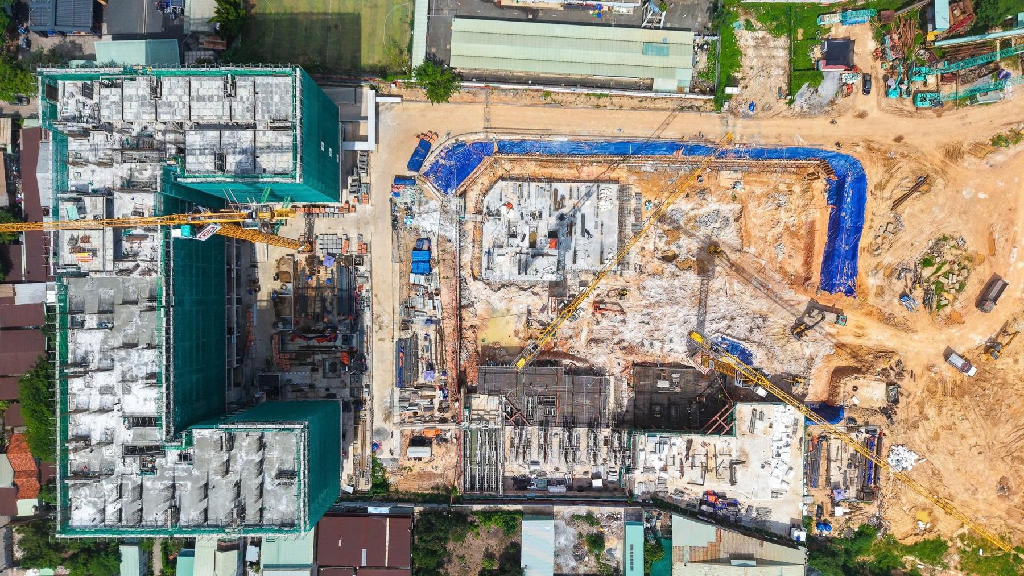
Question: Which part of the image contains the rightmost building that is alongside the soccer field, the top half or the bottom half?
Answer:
top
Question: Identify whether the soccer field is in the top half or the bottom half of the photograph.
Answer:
top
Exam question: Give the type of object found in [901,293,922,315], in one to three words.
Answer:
work vehicle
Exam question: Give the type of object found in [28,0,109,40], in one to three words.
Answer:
shed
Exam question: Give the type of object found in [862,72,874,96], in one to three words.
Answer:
vehicle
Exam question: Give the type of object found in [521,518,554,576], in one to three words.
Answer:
shed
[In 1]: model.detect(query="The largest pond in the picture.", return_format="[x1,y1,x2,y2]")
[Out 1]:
[476,306,535,351]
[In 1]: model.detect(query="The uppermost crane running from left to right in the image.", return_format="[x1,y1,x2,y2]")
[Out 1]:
[904,46,1024,81]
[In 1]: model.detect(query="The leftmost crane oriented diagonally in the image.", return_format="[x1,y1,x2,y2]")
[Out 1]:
[513,131,736,371]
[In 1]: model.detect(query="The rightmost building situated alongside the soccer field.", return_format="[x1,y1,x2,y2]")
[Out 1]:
[451,19,693,85]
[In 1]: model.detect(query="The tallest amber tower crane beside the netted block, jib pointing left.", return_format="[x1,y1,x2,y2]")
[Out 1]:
[0,186,320,255]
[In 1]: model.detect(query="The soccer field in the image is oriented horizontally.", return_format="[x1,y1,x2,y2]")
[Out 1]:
[246,0,411,73]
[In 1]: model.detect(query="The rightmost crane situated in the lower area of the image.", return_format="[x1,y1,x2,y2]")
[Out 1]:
[697,341,1019,557]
